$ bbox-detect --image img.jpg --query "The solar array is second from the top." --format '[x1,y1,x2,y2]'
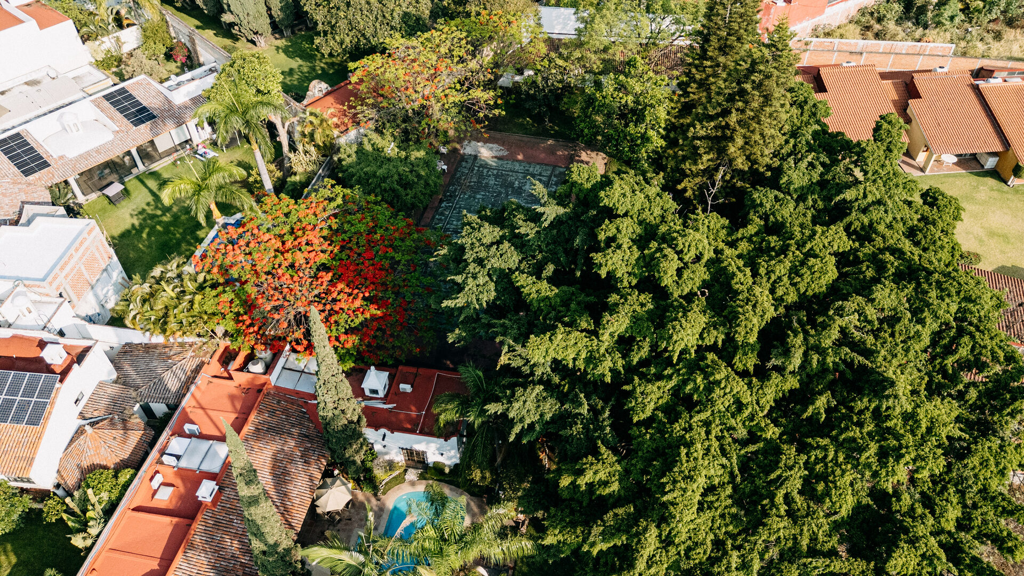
[0,130,50,174]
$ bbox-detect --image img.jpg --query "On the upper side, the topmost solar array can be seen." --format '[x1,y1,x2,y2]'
[102,85,157,124]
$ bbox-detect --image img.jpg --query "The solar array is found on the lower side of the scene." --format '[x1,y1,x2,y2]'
[0,370,56,424]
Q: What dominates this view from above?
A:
trees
